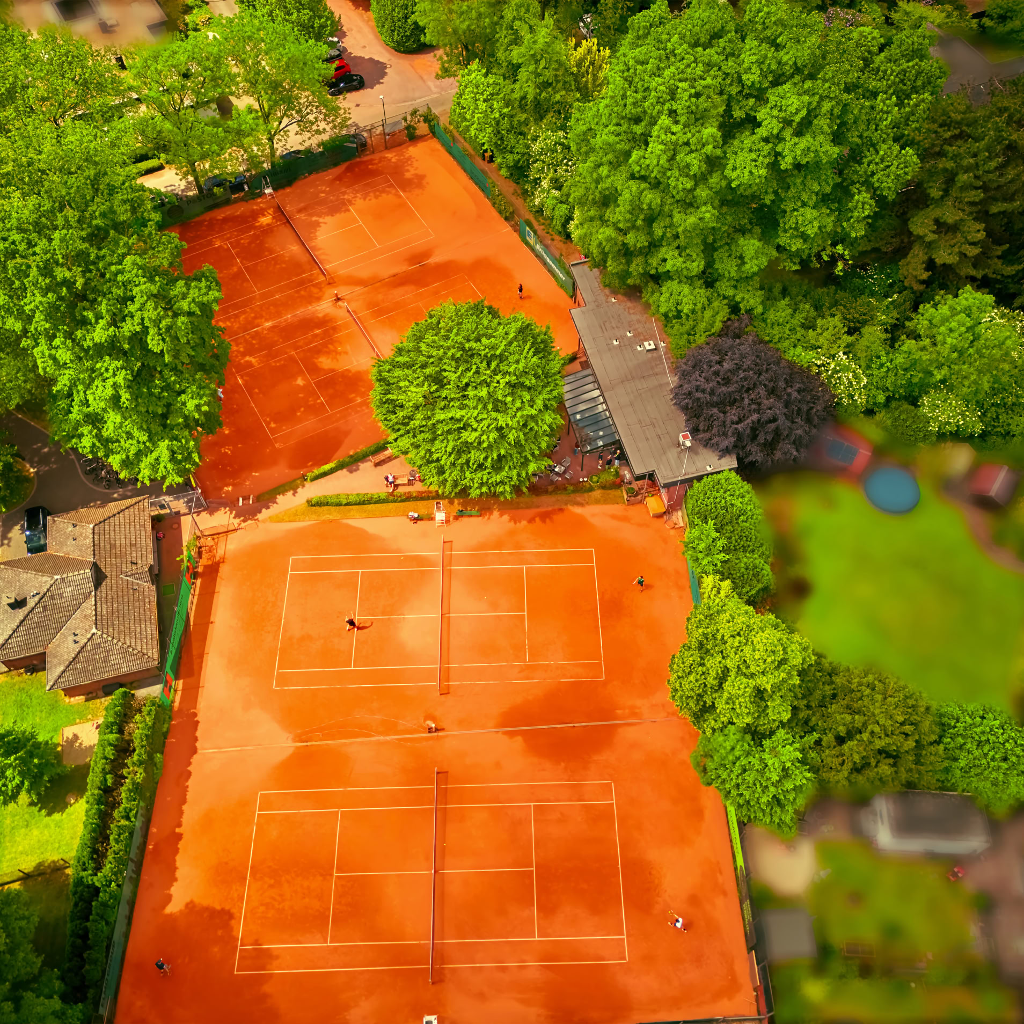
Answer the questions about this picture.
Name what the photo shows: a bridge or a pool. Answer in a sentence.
The one in the frame is a pool.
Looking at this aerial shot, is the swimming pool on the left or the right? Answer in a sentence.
The swimming pool is on the right side of the image.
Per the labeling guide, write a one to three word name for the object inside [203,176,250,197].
car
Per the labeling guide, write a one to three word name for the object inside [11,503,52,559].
car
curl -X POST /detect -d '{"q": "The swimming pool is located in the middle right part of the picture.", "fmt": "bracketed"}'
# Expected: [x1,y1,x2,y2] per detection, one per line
[862,463,922,513]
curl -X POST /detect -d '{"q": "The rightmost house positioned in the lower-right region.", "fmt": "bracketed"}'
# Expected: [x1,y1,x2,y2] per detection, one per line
[871,794,993,848]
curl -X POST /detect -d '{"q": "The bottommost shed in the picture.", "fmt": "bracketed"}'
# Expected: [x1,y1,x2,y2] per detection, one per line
[761,906,818,960]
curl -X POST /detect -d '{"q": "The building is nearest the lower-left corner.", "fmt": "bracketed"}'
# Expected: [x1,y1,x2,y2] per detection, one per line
[0,494,170,700]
